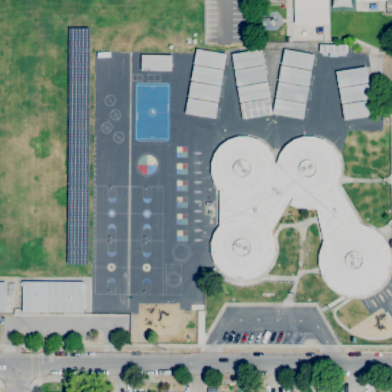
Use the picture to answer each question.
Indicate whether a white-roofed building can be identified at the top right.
Yes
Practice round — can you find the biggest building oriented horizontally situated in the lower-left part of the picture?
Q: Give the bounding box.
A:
[21,282,84,313]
